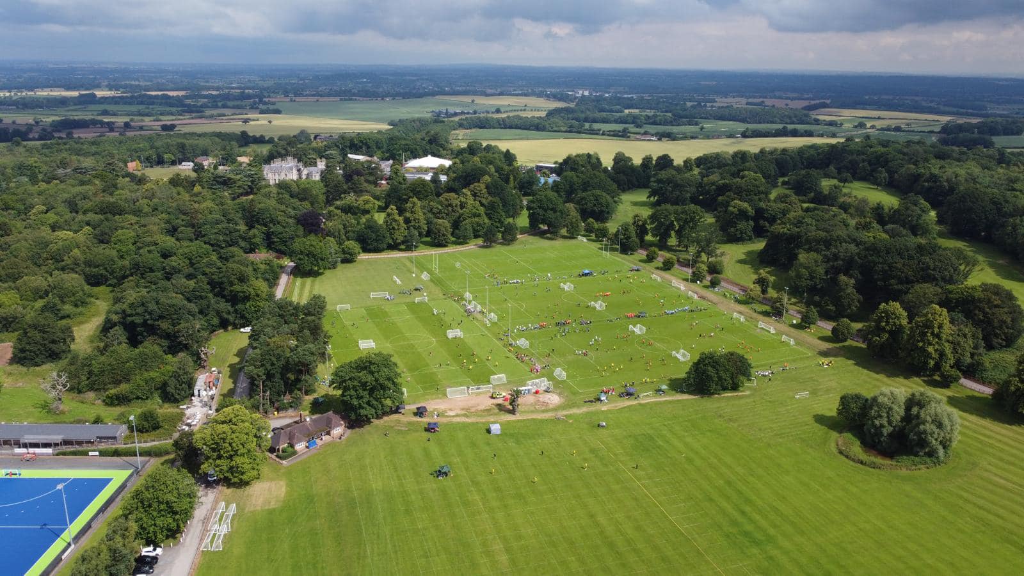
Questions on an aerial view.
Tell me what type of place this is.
sports ground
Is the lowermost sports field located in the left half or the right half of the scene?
left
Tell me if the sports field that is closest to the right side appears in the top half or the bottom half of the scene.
bottom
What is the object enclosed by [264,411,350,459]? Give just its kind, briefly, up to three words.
building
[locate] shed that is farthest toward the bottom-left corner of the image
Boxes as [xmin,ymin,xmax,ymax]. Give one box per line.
[0,420,134,451]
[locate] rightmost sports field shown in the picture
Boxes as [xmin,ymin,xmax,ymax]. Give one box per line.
[197,232,1024,576]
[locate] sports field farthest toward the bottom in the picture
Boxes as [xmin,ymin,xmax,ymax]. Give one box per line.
[0,479,113,576]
